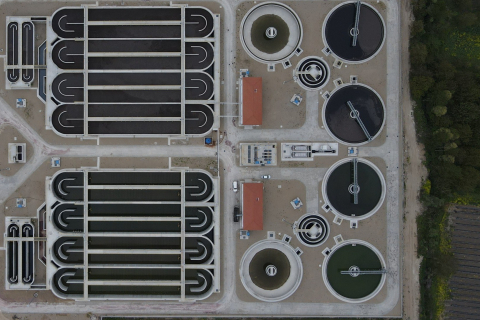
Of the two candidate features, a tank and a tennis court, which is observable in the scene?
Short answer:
tank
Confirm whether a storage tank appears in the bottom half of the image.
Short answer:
Yes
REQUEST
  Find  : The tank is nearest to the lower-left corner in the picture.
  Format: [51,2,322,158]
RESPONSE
[0,203,47,289]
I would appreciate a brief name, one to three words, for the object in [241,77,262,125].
building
